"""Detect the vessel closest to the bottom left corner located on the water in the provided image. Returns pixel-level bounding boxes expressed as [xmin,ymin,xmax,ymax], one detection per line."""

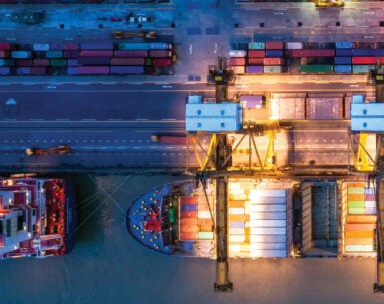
[0,172,76,258]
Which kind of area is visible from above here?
port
